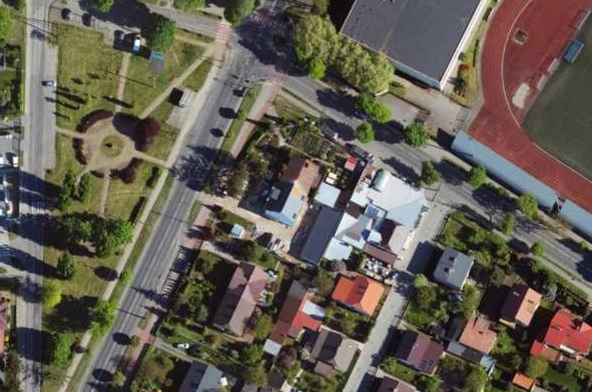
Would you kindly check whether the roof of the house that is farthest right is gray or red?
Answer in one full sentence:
The roof of the house that is farthest right is red.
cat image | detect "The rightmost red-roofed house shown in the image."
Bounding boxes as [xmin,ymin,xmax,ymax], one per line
[542,314,592,362]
